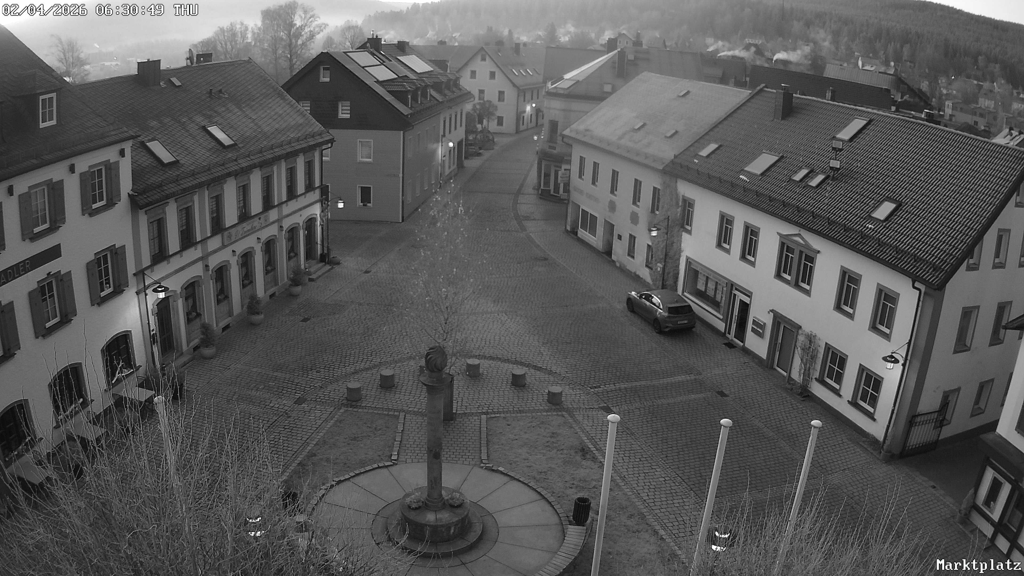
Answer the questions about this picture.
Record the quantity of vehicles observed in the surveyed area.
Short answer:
1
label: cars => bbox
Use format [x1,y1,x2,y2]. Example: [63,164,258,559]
[626,290,695,333]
